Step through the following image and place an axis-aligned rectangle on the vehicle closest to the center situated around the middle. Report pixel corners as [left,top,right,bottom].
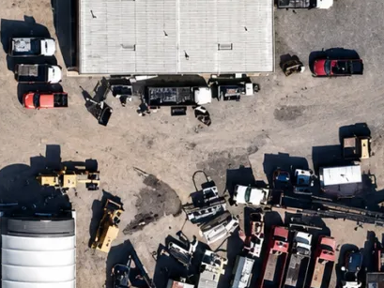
[191,104,212,123]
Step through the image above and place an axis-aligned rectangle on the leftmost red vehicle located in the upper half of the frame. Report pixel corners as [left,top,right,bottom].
[22,89,66,110]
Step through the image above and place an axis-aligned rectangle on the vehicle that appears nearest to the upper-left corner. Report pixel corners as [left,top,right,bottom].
[9,35,55,57]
